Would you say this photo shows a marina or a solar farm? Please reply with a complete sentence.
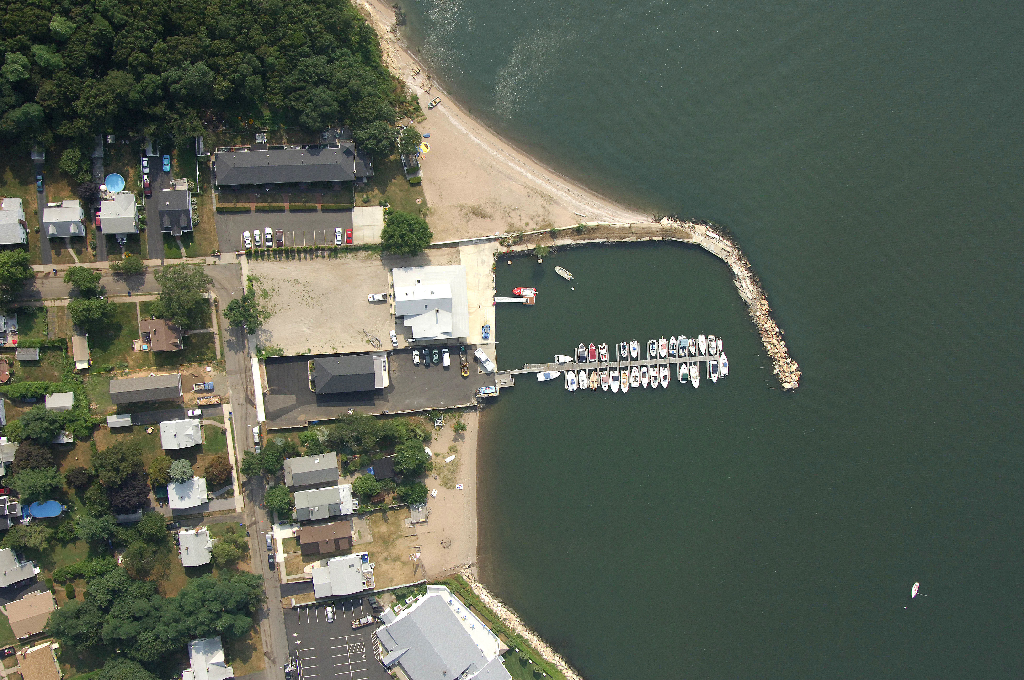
It's a marina.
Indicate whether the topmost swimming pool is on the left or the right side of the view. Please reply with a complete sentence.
You can find the topmost swimming pool on the left side of the picture.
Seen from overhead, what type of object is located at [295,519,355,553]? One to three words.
house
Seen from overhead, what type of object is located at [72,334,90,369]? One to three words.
building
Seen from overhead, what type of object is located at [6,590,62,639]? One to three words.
house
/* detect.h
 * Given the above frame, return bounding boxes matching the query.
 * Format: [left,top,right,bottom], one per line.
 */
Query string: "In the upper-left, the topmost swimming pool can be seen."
[105,173,125,193]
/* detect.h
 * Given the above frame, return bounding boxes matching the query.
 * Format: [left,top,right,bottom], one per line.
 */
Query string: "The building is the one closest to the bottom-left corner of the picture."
[17,641,63,680]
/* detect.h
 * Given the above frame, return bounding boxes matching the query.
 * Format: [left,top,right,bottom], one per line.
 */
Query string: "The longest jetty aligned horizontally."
[524,337,720,388]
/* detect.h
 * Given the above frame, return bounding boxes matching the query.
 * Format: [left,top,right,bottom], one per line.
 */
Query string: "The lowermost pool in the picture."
[29,500,62,518]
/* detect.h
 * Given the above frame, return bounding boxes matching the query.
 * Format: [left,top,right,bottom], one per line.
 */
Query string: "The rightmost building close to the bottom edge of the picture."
[376,584,512,680]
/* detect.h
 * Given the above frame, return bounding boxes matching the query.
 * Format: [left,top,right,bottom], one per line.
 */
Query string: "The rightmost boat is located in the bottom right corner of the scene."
[911,582,930,602]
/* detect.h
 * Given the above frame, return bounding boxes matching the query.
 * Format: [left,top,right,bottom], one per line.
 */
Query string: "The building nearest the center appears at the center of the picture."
[392,265,469,342]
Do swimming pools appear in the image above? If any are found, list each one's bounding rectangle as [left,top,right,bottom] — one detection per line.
[105,173,125,193]
[29,500,62,518]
